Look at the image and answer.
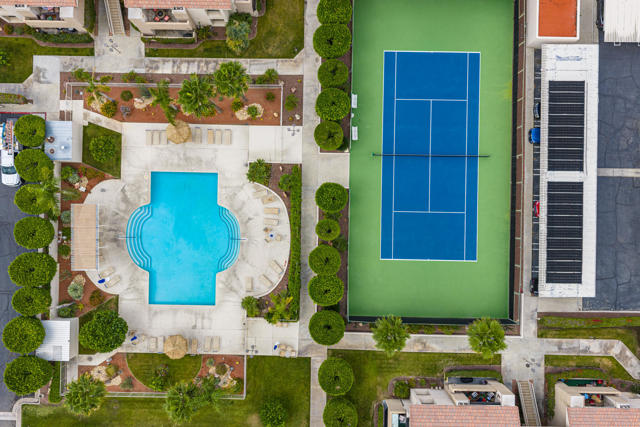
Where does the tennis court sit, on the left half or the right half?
right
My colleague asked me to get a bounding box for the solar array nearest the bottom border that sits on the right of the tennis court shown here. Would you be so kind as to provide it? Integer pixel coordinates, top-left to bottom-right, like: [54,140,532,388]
[546,182,583,283]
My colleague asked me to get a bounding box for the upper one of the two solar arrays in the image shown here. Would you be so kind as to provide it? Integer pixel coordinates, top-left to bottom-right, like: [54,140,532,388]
[548,81,585,174]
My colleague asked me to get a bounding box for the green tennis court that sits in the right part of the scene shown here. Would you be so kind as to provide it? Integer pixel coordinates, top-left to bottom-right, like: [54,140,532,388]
[348,0,514,318]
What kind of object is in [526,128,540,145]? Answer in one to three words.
vehicle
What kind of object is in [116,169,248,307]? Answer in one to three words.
swimming pool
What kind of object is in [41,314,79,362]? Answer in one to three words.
shed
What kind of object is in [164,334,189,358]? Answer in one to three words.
umbrella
